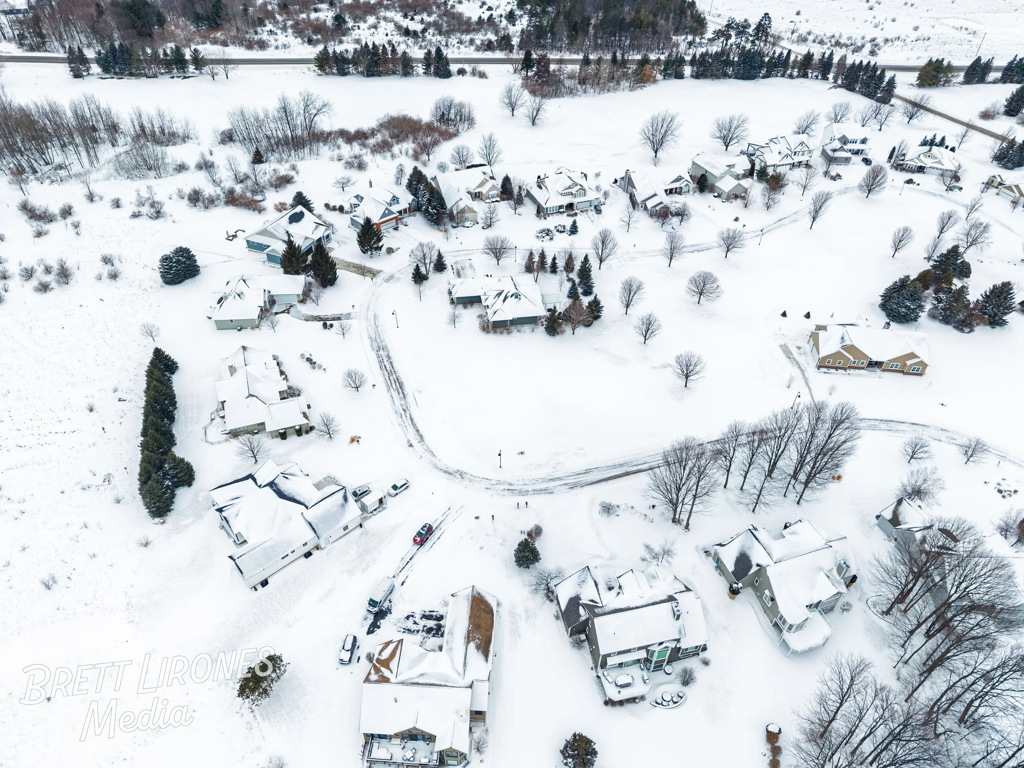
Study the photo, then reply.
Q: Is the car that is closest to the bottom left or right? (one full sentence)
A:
The car that is closest to the bottom appears in the left half of the scene.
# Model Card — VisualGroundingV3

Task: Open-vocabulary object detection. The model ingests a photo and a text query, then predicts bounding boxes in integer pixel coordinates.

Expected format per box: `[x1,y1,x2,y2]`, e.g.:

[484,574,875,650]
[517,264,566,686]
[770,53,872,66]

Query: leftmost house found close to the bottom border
[359,588,496,768]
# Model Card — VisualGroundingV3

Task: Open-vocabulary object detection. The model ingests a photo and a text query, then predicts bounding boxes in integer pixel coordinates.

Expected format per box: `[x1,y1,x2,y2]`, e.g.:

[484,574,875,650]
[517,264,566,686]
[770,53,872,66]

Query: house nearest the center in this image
[448,274,562,330]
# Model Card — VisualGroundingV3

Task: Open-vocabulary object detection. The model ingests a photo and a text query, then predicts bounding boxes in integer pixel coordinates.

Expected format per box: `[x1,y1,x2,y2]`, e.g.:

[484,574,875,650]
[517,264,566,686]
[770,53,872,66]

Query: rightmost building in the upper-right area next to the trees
[974,172,1024,207]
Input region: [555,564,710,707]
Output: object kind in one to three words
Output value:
house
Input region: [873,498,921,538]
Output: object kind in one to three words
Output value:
house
